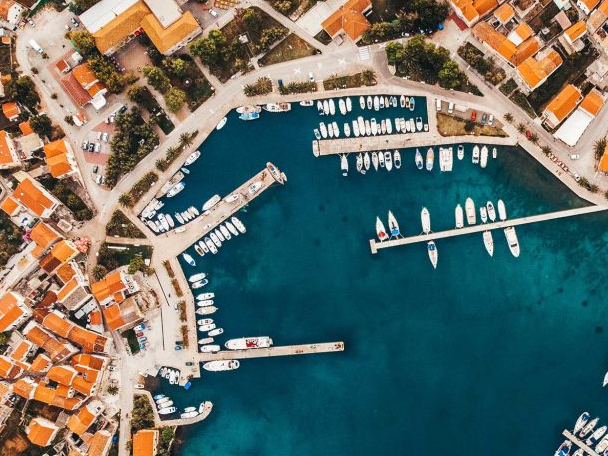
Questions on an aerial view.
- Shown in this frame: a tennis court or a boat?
boat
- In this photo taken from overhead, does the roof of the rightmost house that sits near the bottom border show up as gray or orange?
orange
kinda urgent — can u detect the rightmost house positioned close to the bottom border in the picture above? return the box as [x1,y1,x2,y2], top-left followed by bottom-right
[133,430,159,456]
